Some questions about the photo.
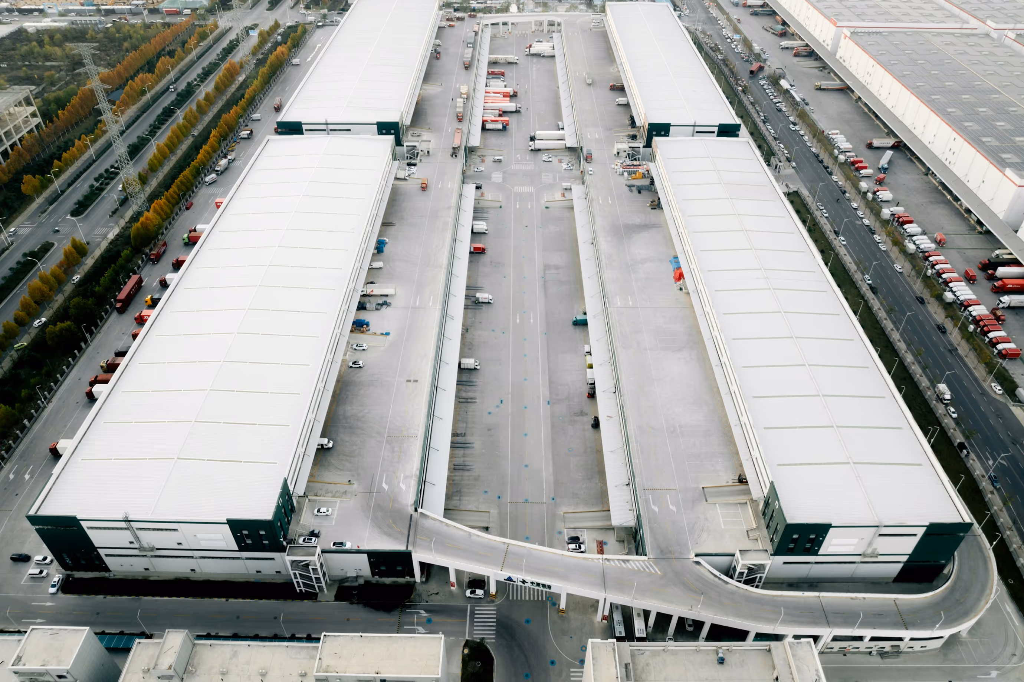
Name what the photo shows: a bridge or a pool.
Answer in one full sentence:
Visible in the photo is a bridge.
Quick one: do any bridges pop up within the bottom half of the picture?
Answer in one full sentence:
Yes, within the bottom half of the picture there is a bridge.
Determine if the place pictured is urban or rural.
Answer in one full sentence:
It looks urban.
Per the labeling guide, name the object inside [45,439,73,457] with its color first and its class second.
white vehicle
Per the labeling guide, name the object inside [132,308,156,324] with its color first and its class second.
red vehicle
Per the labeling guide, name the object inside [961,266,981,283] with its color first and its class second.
red vehicle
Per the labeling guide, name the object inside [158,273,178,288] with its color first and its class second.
white vehicle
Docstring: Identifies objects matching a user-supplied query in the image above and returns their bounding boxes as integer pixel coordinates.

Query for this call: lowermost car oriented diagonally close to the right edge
[986,473,1001,488]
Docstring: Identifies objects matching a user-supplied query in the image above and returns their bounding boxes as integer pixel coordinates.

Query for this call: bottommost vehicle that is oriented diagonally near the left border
[46,575,65,594]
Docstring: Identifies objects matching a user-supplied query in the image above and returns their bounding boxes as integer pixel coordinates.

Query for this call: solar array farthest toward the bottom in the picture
[853,33,1024,171]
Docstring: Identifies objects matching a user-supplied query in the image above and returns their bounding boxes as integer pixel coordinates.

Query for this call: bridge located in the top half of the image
[479,10,606,37]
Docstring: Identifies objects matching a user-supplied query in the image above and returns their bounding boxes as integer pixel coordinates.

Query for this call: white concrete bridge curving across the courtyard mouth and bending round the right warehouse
[409,462,997,657]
